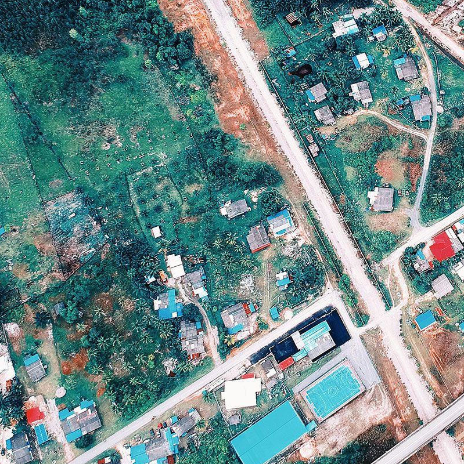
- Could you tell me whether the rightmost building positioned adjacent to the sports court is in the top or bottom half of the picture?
bottom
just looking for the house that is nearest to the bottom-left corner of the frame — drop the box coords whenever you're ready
[5,432,35,464]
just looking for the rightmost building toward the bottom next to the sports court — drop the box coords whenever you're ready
[290,320,336,359]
